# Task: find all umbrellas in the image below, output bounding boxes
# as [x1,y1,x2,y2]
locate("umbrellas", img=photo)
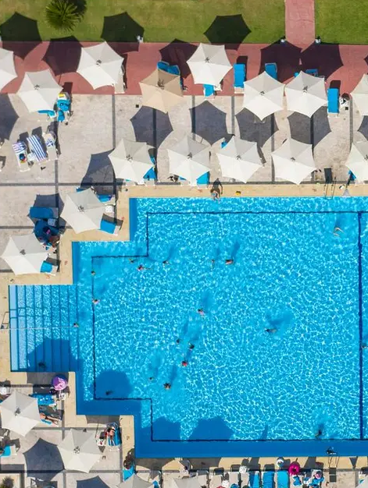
[79,45,125,91]
[187,43,233,86]
[170,135,213,182]
[57,428,104,473]
[108,137,155,182]
[271,138,316,186]
[0,390,42,436]
[283,69,328,115]
[114,473,155,488]
[218,138,263,182]
[18,69,65,114]
[2,232,49,276]
[0,49,19,90]
[352,74,368,114]
[60,188,107,233]
[142,67,186,112]
[346,141,368,184]
[243,74,285,120]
